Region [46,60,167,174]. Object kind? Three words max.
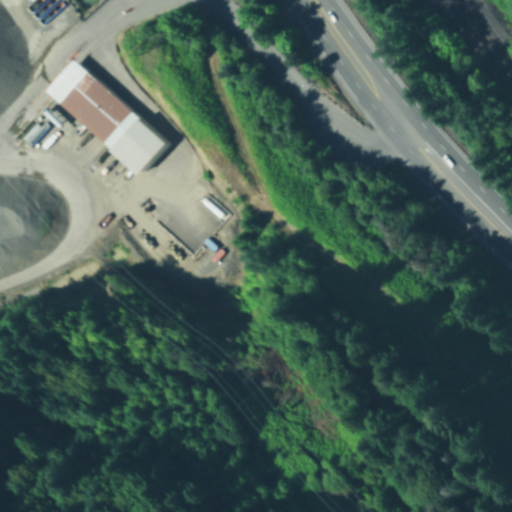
warehouse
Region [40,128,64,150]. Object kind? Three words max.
truck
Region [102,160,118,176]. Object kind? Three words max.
vehicle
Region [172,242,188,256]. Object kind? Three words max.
work vehicle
